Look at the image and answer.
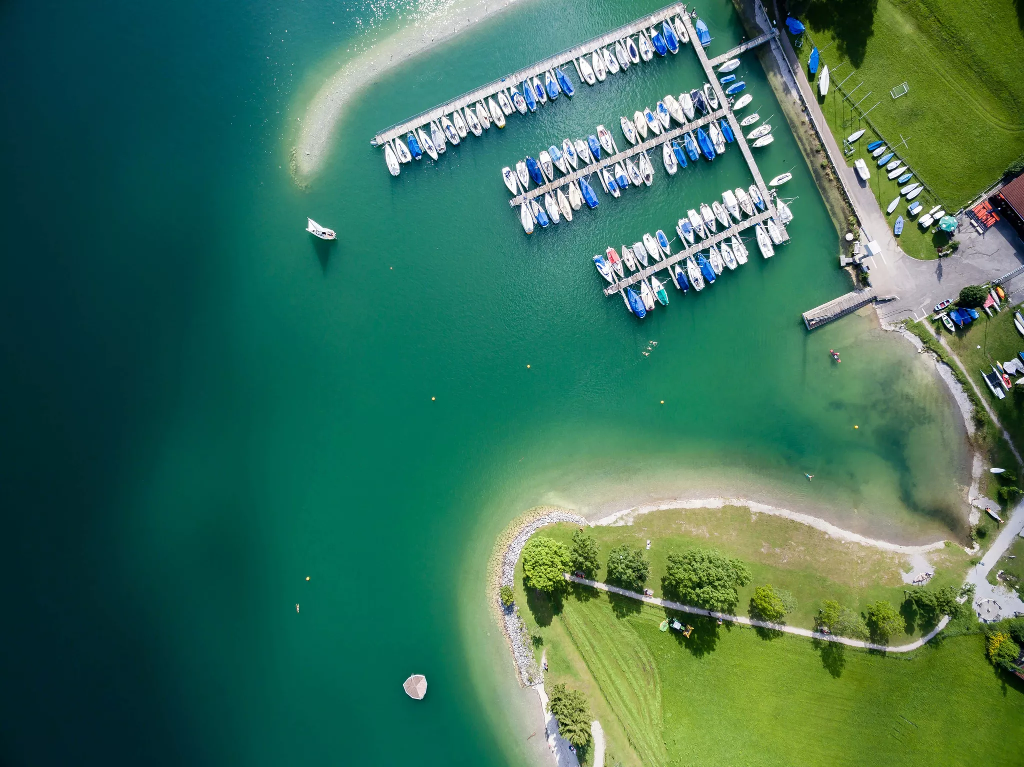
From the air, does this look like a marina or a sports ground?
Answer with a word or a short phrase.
marina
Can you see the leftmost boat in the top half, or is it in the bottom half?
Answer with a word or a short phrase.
top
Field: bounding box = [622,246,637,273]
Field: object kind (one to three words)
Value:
boat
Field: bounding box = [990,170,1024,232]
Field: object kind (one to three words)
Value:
house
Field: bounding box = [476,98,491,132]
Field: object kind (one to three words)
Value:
boat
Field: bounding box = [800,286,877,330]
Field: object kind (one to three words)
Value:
pier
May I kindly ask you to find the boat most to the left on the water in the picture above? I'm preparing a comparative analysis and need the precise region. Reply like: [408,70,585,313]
[305,219,338,240]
